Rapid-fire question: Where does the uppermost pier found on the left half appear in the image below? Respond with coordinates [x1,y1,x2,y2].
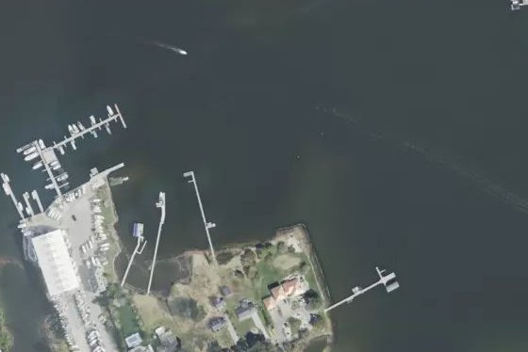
[40,104,127,152]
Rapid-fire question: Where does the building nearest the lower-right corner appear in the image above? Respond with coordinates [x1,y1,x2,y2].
[263,274,302,310]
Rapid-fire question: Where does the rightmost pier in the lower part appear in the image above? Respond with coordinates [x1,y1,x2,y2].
[326,267,400,311]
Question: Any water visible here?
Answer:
Yes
